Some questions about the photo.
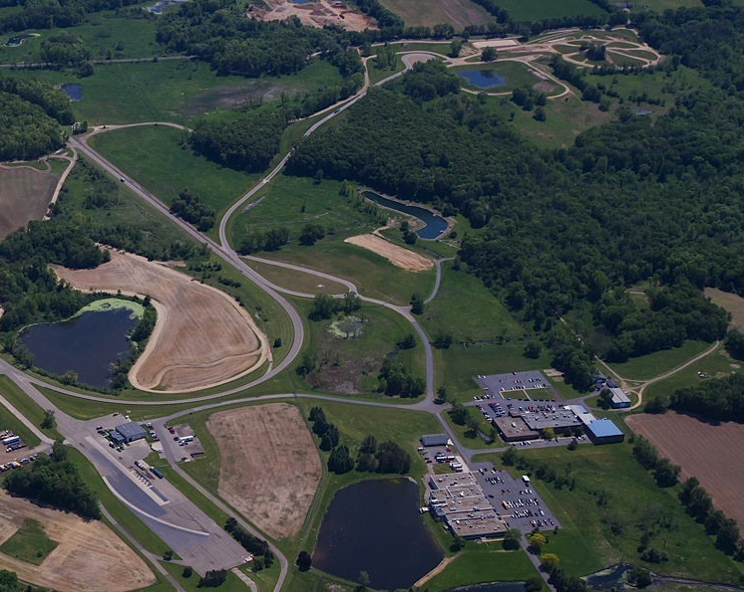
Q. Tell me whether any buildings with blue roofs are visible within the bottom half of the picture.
Yes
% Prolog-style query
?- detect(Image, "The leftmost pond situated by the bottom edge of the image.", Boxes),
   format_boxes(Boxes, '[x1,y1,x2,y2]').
[313,478,443,590]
